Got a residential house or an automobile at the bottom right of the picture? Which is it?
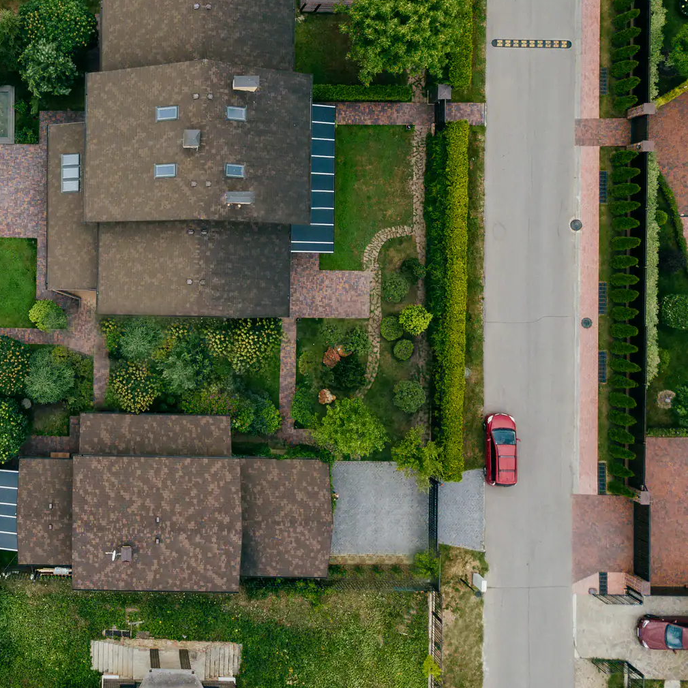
automobile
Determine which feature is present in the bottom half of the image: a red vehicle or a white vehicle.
red vehicle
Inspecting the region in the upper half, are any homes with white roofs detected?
No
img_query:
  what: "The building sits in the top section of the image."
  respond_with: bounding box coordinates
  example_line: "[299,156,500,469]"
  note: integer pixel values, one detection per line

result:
[45,0,336,320]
